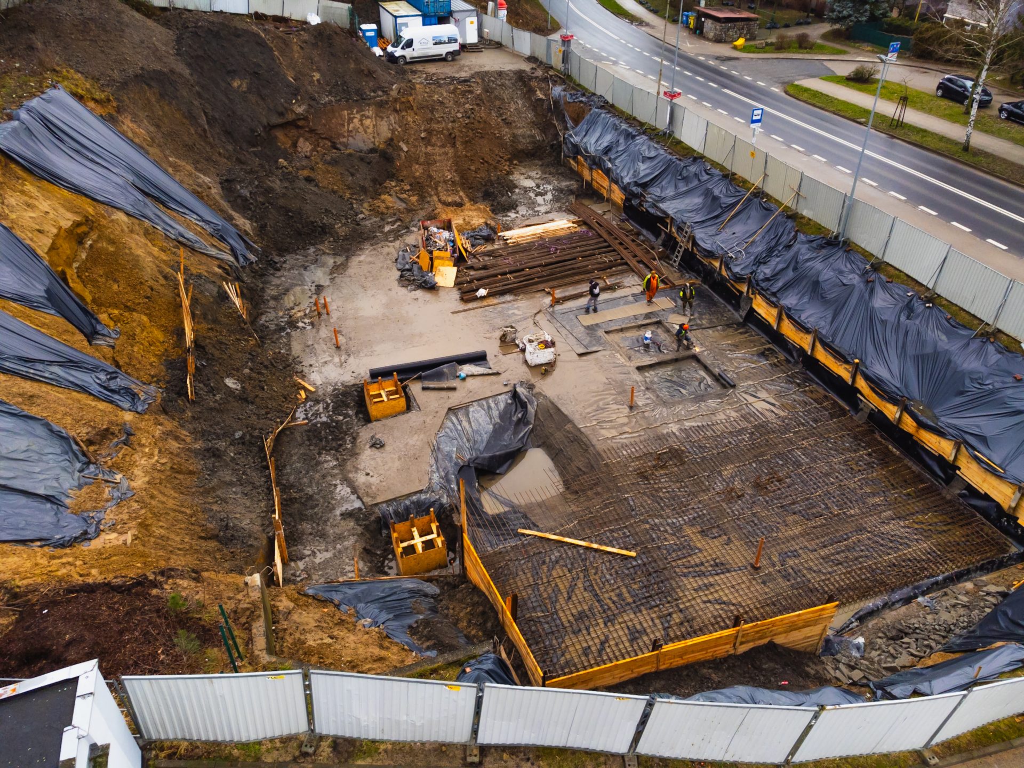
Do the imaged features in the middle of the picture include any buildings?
No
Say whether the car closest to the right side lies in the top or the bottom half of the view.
top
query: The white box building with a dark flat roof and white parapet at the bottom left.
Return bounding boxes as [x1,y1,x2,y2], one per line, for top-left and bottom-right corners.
[0,656,142,768]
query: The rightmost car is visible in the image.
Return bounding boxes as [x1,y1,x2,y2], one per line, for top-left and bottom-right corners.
[1002,100,1024,126]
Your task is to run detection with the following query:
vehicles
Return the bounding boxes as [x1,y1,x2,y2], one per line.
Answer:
[939,71,998,106]
[1002,100,1024,126]
[384,20,463,65]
